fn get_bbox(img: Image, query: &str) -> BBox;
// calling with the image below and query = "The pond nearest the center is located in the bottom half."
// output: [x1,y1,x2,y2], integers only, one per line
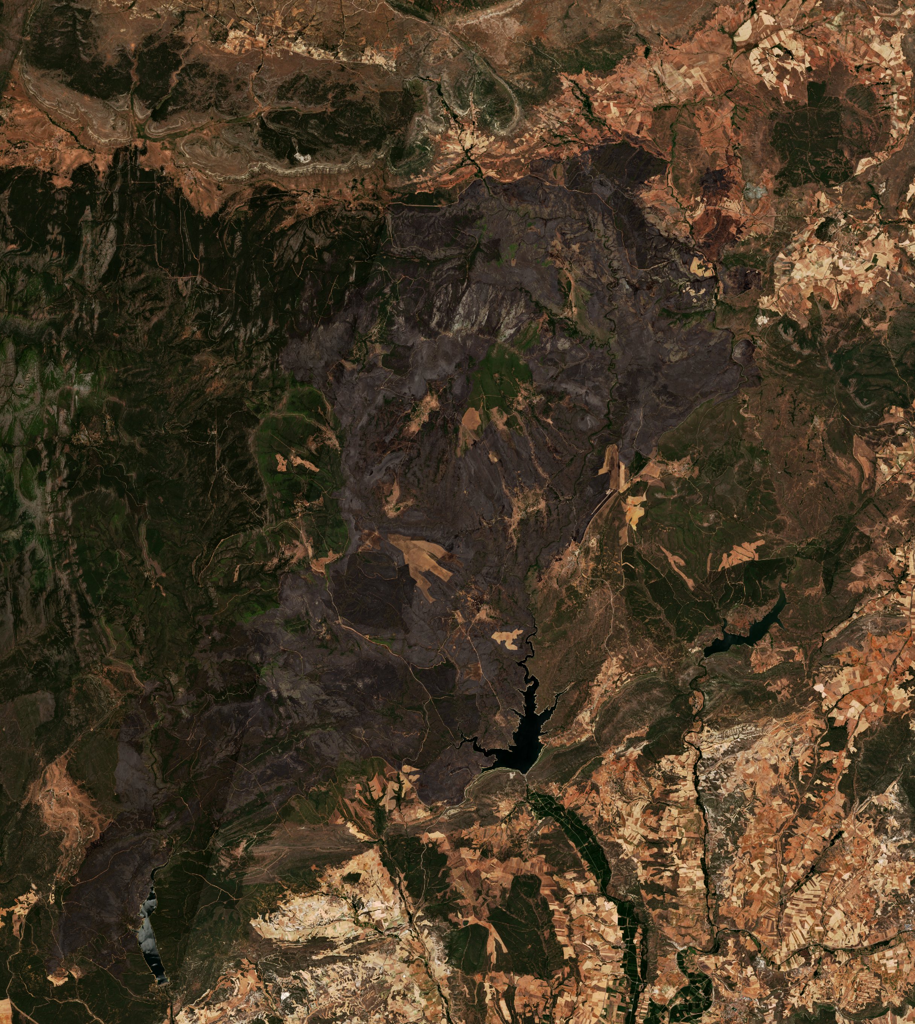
[447,608,571,774]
